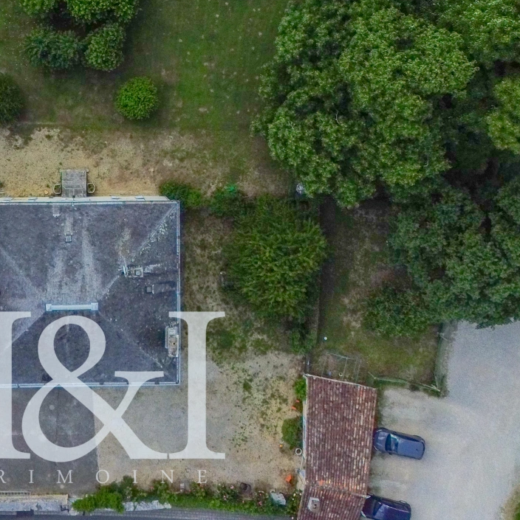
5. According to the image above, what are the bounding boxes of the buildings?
[0,196,182,389]
[287,370,377,520]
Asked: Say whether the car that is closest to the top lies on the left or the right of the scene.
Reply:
right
